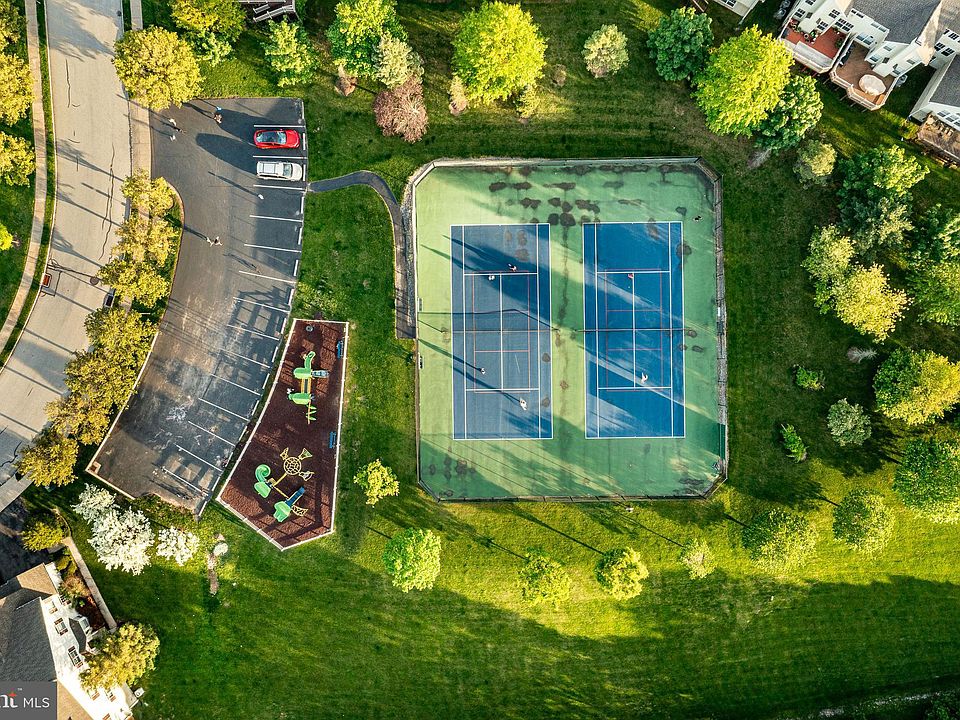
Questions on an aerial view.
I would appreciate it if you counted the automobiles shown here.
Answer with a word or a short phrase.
2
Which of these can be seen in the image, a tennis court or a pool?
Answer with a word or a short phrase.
tennis court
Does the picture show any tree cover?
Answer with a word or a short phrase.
Yes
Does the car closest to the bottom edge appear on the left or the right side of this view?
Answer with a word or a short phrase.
left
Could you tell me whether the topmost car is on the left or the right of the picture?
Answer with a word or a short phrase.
left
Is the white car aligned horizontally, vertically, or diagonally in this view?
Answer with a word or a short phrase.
horizontally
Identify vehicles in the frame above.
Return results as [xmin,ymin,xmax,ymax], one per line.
[255,128,300,149]
[256,160,304,183]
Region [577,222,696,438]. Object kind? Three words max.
tennis court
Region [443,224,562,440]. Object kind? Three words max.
tennis court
